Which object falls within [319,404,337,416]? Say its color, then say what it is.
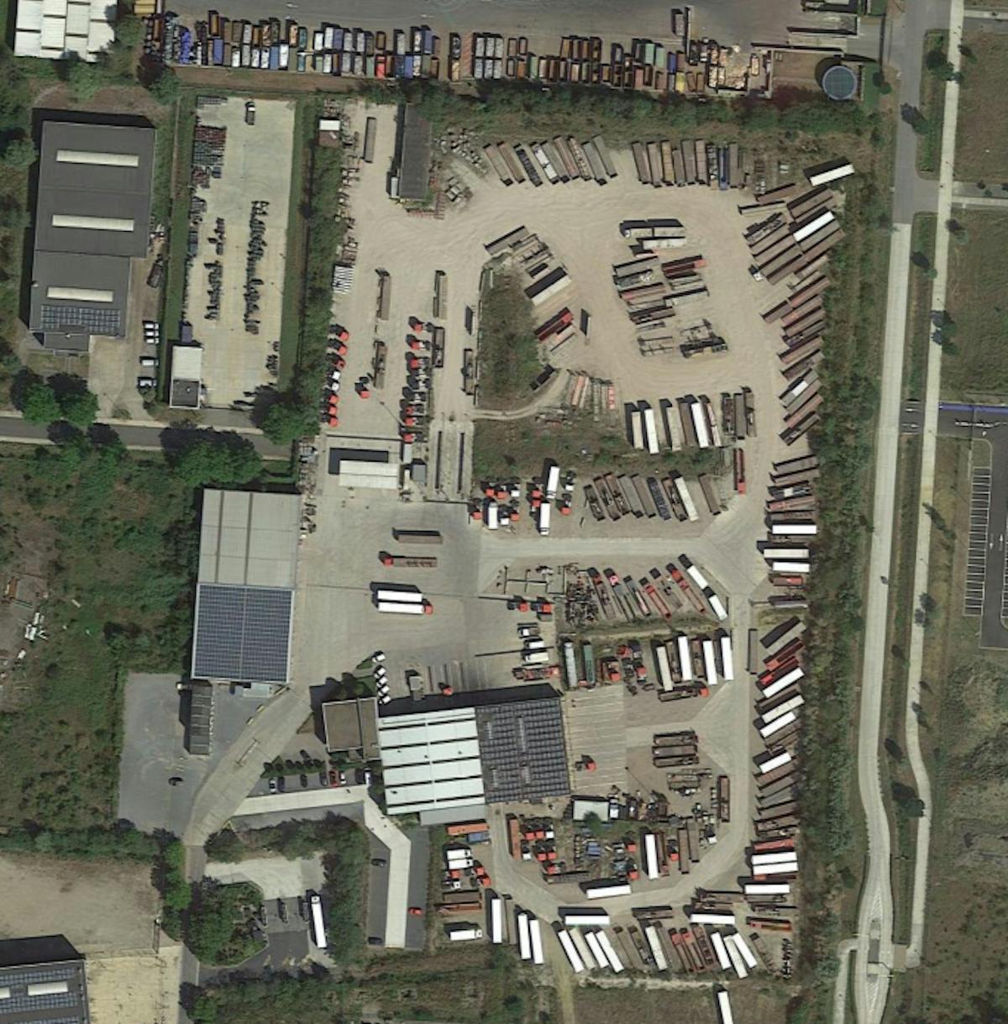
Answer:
red vehicle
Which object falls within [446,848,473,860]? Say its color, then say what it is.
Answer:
white vehicle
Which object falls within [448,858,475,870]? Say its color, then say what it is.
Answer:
white vehicle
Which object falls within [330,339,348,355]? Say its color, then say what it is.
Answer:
red vehicle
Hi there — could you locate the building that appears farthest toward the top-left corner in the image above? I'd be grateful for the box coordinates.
[13,0,116,57]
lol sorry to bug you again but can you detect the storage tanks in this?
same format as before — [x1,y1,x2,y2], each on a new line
[823,64,858,100]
